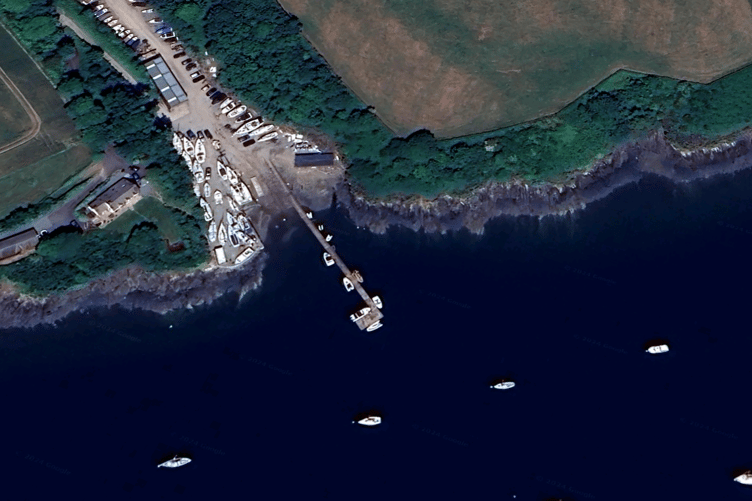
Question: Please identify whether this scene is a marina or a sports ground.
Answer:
marina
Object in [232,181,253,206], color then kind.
white boat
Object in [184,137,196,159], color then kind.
white boat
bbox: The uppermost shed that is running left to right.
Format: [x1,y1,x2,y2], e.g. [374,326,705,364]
[295,154,333,167]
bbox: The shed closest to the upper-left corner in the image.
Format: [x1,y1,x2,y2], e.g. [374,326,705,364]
[143,52,188,109]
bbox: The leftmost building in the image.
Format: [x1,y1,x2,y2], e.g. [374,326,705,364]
[0,227,40,259]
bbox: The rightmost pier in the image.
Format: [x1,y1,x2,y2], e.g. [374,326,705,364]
[265,159,383,331]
